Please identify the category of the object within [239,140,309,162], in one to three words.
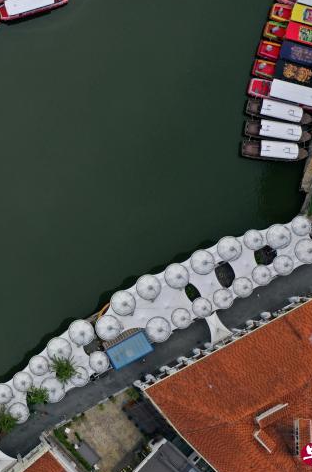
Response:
boat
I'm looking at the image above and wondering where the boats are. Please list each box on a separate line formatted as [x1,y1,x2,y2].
[239,140,309,162]
[267,2,312,29]
[0,0,70,22]
[244,77,312,110]
[254,38,312,69]
[242,119,312,144]
[248,59,312,90]
[260,20,312,48]
[242,98,312,126]
[273,0,312,9]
